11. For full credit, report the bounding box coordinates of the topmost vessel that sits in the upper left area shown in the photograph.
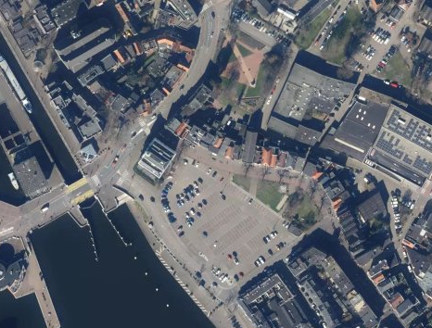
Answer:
[0,56,31,112]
